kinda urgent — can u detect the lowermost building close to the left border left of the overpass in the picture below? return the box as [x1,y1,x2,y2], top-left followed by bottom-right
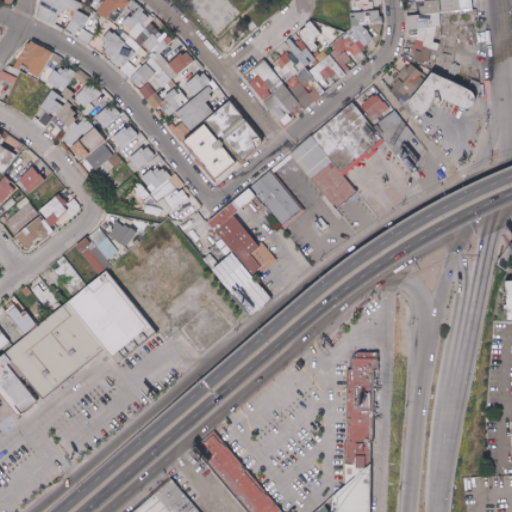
[0,354,37,412]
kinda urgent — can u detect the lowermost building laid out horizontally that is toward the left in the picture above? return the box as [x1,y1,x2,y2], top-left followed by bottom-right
[128,479,200,512]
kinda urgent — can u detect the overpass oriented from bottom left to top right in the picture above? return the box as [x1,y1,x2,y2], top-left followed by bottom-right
[43,168,512,512]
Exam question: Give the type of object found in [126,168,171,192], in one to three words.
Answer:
house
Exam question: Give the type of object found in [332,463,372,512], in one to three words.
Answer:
building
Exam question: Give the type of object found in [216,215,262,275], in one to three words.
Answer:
building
